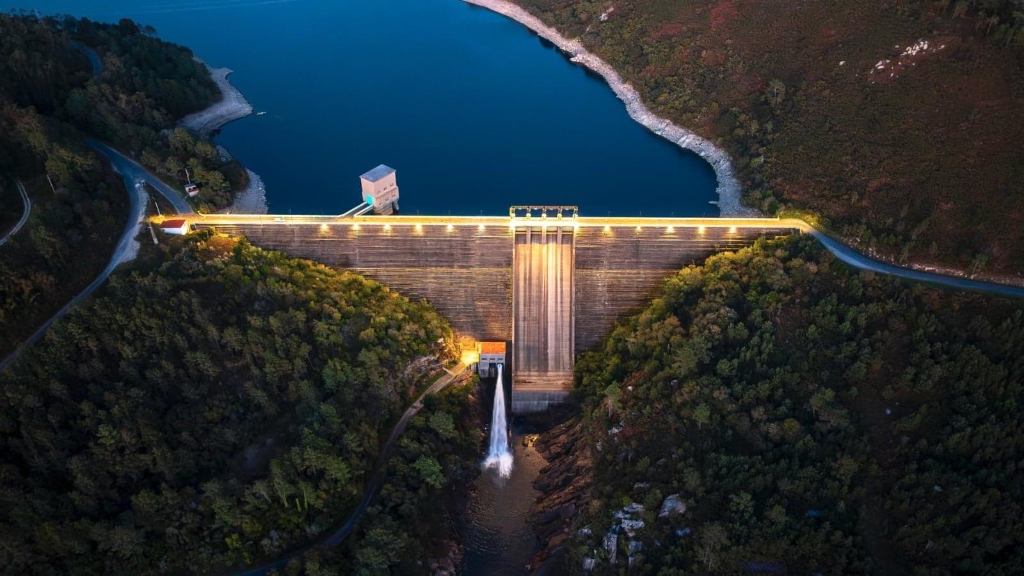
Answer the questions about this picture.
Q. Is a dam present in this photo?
Yes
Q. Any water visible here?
Yes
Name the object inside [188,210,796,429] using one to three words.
dam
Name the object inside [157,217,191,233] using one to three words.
house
